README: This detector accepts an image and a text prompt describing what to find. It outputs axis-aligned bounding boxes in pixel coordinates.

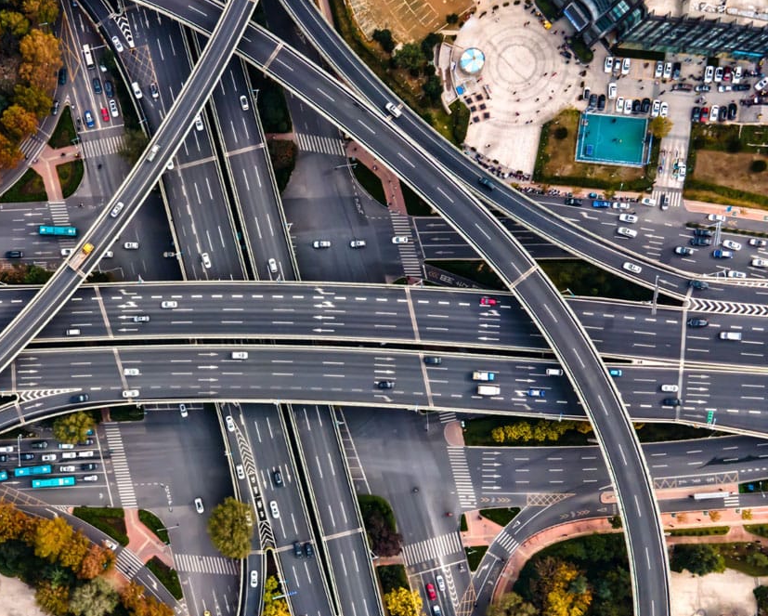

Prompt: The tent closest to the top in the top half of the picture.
[461,42,491,73]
